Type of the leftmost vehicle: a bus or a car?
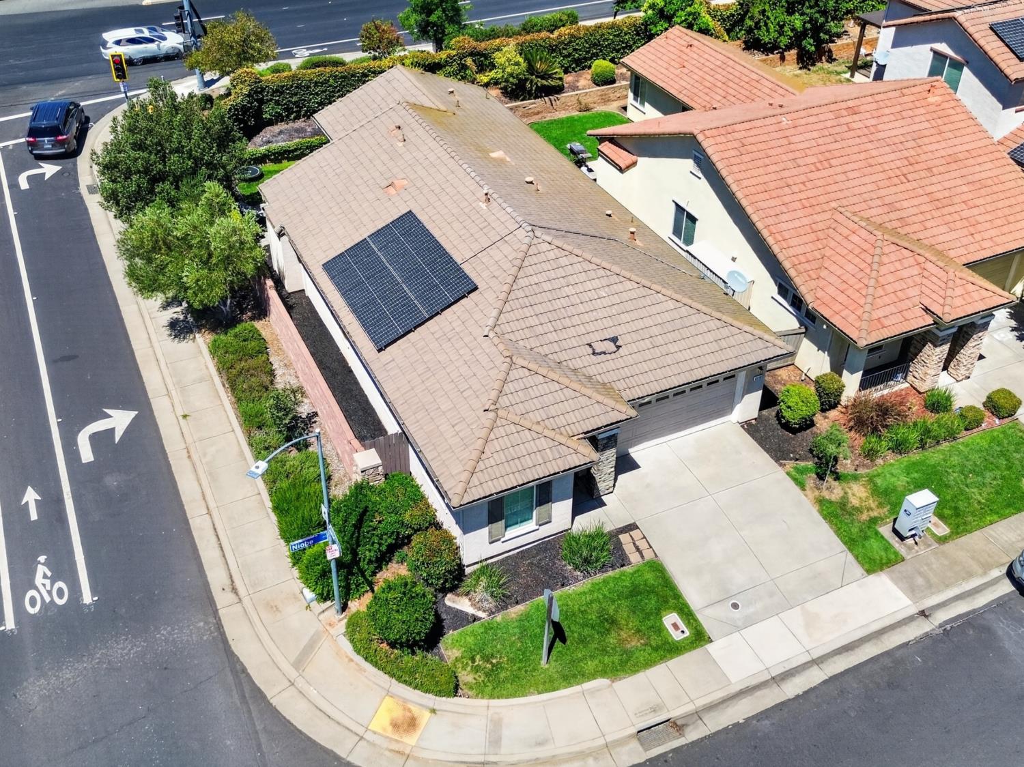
car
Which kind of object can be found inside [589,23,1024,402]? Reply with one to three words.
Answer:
house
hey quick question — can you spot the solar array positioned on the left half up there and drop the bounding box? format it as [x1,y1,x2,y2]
[322,209,476,351]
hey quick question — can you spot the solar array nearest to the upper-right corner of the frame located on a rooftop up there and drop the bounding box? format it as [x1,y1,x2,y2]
[992,16,1024,60]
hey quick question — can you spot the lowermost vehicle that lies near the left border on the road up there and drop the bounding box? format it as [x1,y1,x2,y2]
[29,95,89,148]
